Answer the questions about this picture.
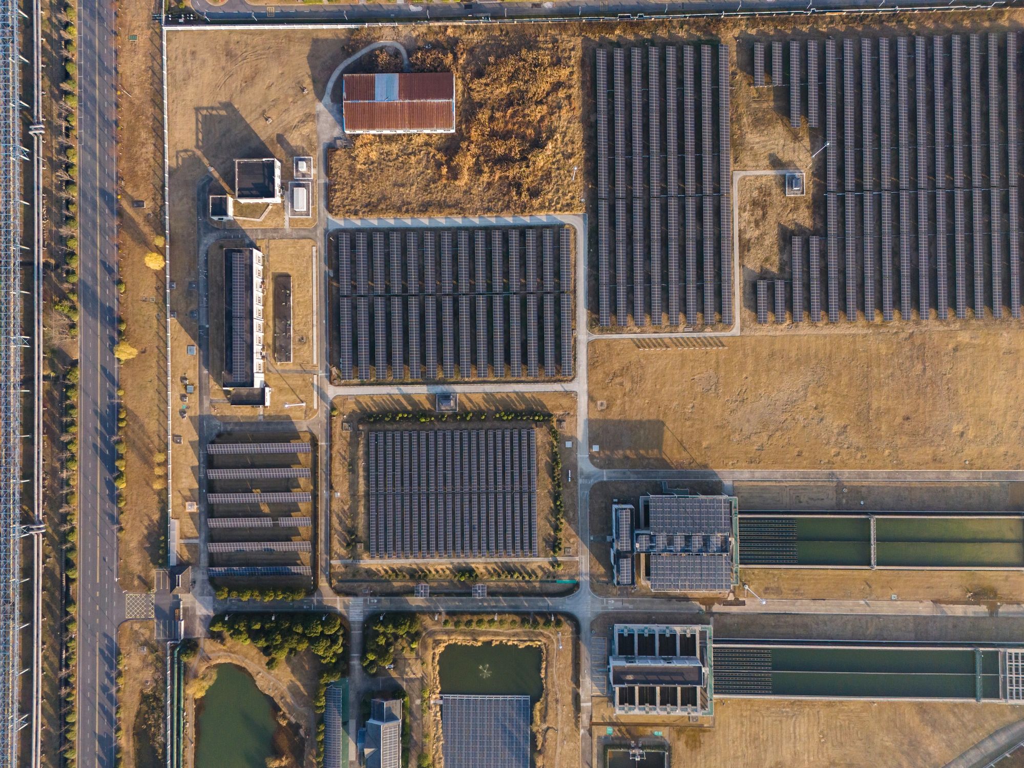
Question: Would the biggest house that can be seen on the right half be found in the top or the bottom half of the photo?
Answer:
bottom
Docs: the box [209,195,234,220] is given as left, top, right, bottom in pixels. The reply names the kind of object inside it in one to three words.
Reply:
building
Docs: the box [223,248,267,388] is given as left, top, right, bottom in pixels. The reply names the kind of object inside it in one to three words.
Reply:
building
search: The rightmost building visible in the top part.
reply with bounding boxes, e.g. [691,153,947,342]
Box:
[343,73,455,134]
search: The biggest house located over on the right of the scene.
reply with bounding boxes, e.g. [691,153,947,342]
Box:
[606,622,714,716]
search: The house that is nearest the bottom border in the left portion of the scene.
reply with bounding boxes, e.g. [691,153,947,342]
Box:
[358,695,403,768]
